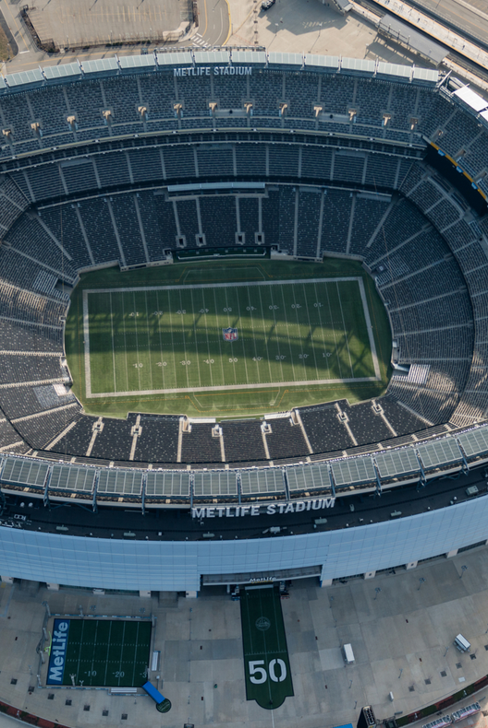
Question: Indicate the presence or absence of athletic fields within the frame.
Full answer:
Yes, you can see an athletic field in this photo.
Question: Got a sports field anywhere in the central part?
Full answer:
Yes, looking in the central part, one can make out a sports field.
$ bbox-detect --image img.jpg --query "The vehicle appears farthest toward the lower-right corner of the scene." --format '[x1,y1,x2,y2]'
[451,699,486,724]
